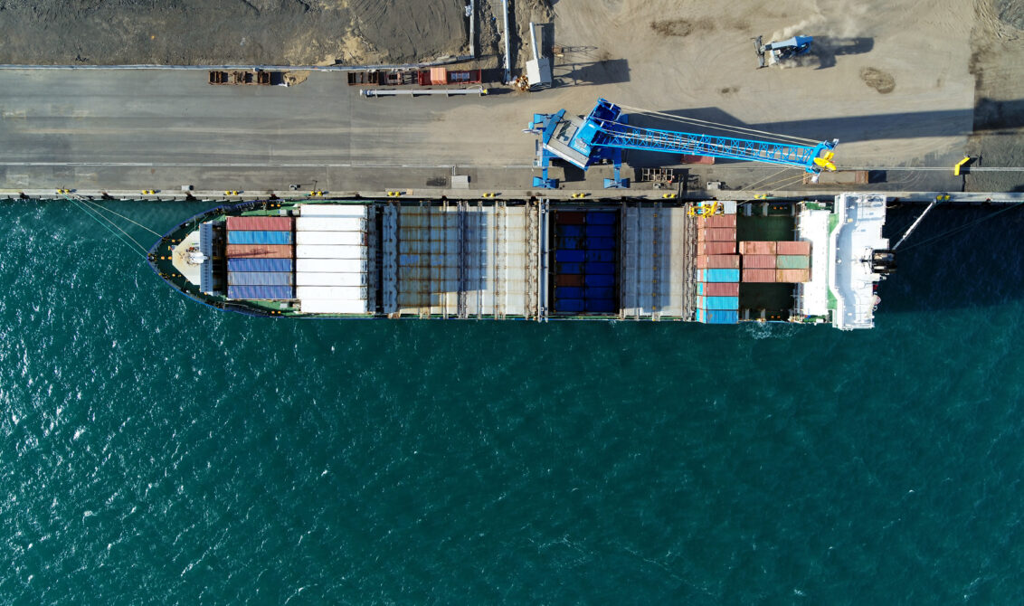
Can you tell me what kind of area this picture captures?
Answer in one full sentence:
What you see here is a port.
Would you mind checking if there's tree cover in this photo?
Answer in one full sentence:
No, the scene doesn't show any tree cover.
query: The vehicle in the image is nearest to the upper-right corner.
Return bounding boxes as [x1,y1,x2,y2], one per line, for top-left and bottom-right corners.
[758,29,817,68]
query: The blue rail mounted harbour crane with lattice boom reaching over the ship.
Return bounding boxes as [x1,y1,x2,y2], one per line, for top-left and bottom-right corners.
[530,93,844,212]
